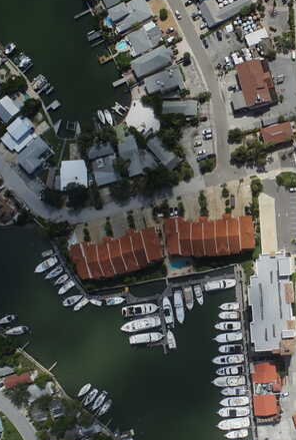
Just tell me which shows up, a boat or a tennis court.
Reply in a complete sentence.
Looking from above, you can make out a boat.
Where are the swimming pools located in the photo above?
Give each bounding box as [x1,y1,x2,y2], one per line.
[114,38,129,52]
[168,259,193,271]
[103,13,114,28]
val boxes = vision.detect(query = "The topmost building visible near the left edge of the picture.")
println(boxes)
[0,95,21,122]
